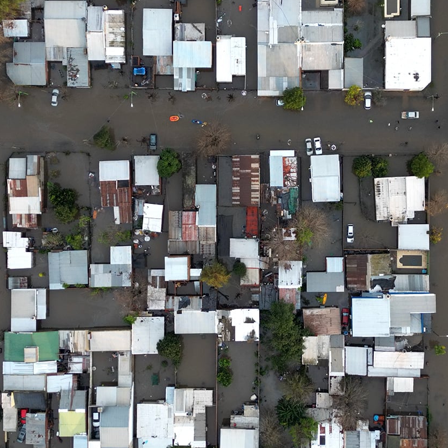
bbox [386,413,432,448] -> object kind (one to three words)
shed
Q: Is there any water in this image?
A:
Yes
